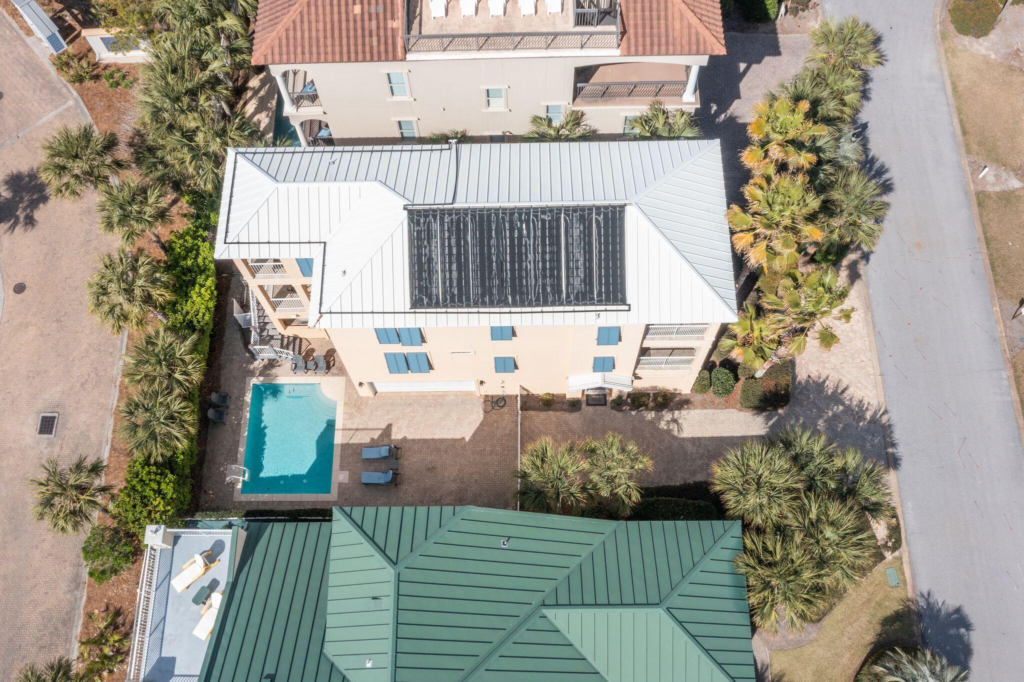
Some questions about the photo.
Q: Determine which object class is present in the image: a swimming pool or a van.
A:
swimming pool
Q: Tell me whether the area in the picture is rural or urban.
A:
urban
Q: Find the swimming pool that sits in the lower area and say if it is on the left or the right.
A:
left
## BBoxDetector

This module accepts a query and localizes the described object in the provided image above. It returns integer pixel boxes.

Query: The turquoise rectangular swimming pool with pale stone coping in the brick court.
[225,376,350,501]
